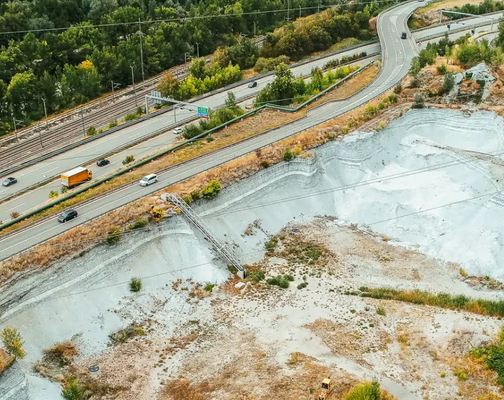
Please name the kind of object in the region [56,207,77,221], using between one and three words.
vehicle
